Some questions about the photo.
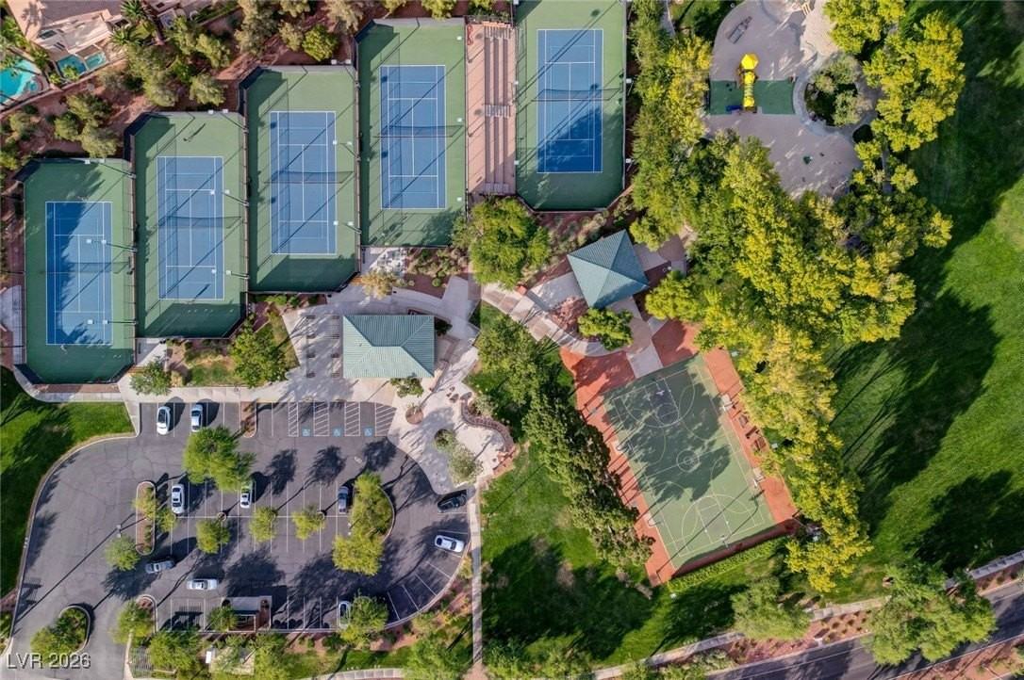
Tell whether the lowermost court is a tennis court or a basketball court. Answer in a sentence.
The lowermost court is a basketball court.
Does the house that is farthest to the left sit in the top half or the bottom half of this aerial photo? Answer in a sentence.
The house that is farthest to the left sits in the top half of the picture.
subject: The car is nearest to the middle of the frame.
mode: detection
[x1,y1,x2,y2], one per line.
[437,493,468,513]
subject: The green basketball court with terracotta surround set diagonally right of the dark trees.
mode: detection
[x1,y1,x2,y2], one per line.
[561,319,801,586]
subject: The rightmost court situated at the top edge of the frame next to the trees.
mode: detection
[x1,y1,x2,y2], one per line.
[516,0,626,210]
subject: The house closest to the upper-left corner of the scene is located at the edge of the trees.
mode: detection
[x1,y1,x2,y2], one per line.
[12,0,131,61]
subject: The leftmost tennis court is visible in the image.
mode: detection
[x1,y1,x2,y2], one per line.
[23,160,130,381]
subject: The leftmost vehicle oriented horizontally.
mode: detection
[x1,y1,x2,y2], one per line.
[143,559,174,576]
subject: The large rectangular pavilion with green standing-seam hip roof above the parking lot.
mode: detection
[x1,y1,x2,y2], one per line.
[342,315,435,379]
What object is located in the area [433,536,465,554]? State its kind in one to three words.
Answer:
car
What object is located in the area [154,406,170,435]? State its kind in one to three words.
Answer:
car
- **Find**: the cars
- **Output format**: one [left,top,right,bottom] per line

[185,579,216,594]
[187,404,202,434]
[168,484,184,514]
[143,559,174,576]
[335,484,349,514]
[433,536,465,554]
[154,406,170,435]
[237,480,252,511]
[437,493,468,513]
[337,601,350,631]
